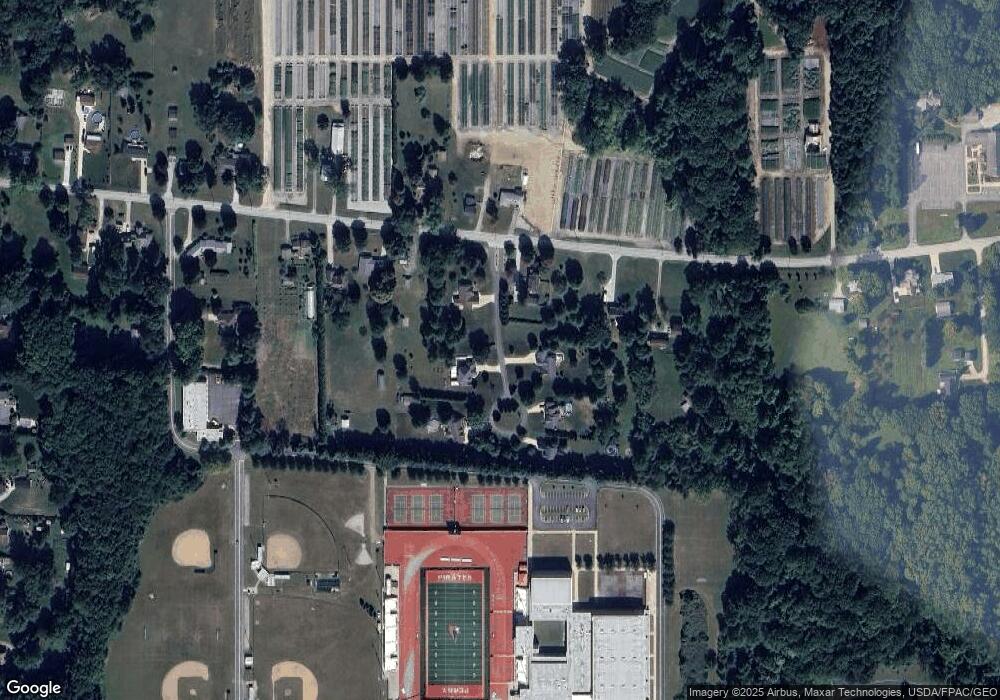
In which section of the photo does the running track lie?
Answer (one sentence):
You can find the running track in the bottom area of the picture.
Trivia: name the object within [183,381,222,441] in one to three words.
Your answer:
building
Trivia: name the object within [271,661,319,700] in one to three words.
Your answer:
baseball field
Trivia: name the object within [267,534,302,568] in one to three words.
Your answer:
baseball field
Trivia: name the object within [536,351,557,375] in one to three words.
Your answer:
house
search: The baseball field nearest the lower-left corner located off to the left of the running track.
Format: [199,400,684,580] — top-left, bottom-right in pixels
[160,661,212,700]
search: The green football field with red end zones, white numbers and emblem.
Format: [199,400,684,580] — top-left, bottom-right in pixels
[421,567,490,700]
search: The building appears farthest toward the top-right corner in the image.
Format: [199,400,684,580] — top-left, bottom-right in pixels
[917,92,941,110]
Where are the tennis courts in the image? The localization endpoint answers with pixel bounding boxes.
[507,495,521,523]
[430,495,444,523]
[472,495,485,523]
[490,495,505,523]
[411,495,426,523]
[394,495,408,523]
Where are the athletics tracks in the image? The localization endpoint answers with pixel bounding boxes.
[386,531,527,700]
